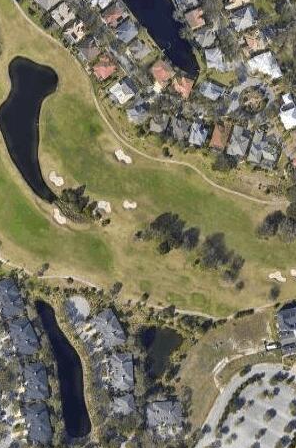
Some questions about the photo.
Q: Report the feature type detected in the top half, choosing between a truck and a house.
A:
house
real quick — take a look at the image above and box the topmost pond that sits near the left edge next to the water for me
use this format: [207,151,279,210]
[0,57,57,202]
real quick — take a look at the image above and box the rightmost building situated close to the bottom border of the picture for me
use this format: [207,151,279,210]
[147,400,184,431]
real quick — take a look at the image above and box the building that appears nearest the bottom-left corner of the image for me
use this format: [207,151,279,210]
[24,402,53,445]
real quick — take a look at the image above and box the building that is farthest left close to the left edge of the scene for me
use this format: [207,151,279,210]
[0,278,22,318]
